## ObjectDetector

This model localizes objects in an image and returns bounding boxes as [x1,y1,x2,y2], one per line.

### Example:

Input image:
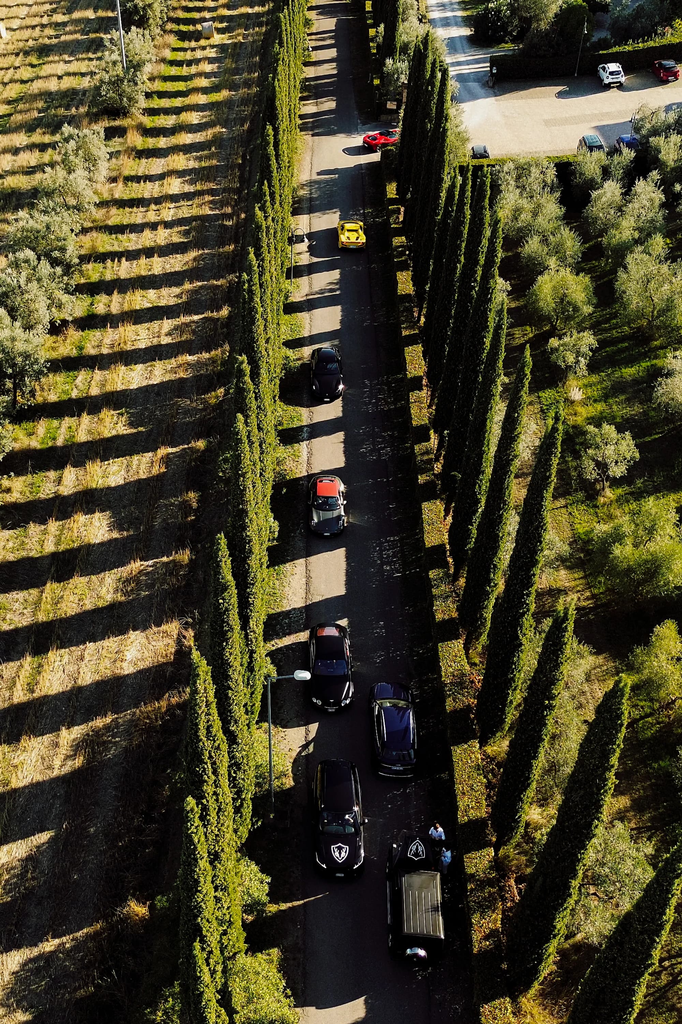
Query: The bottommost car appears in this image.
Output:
[383,835,446,965]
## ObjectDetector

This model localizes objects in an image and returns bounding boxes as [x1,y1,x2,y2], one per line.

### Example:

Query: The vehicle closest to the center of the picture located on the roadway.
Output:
[307,474,346,537]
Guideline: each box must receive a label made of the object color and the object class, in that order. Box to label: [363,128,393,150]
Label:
red car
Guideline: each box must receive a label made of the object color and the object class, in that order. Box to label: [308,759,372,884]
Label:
black car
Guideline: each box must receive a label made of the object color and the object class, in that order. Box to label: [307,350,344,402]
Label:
black car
